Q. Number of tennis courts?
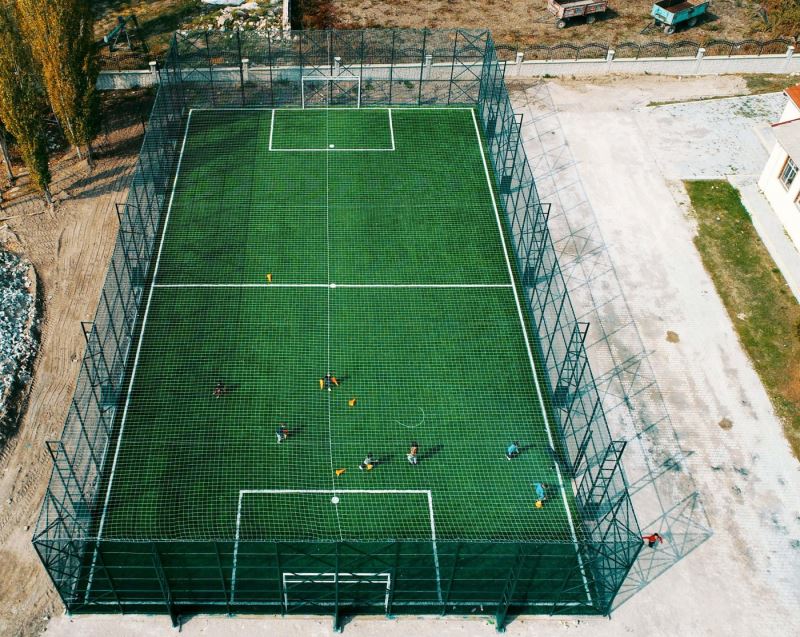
none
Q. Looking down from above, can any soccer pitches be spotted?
Yes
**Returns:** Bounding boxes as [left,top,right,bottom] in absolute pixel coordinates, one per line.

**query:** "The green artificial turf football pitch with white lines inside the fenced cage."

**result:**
[71,103,602,612]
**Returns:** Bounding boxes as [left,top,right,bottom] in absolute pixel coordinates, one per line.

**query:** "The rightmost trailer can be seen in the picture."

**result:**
[647,0,705,30]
